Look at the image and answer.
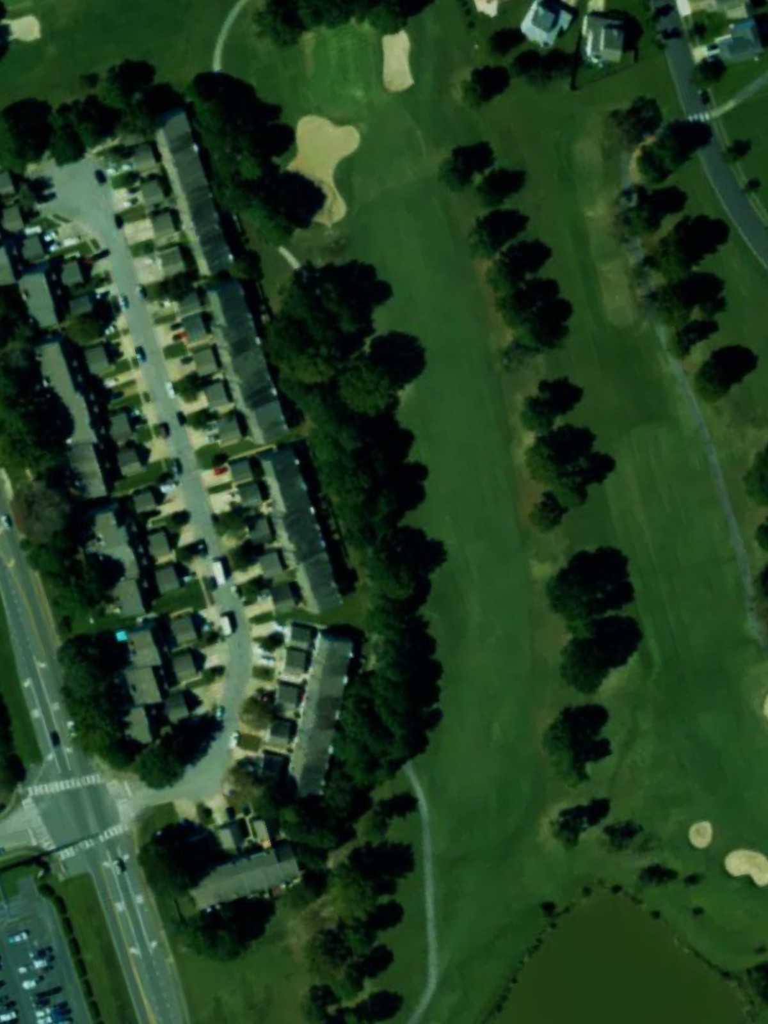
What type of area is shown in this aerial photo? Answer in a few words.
golf course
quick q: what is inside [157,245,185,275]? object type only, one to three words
building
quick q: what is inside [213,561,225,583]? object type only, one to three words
vehicle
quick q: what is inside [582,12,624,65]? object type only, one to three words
house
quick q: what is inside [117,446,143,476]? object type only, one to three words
building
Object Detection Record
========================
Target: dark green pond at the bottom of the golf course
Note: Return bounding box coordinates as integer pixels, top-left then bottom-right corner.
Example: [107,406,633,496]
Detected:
[489,892,745,1024]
